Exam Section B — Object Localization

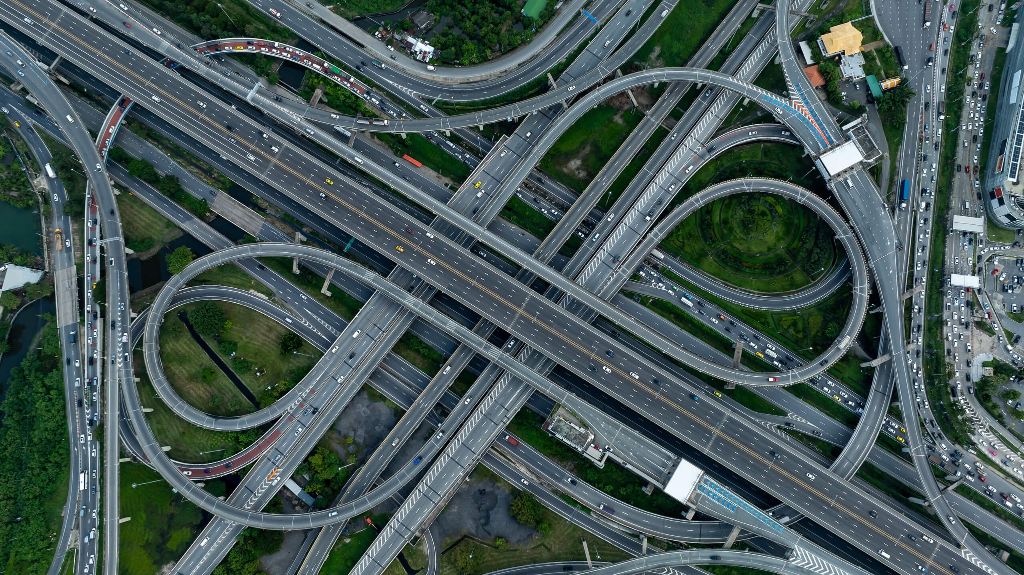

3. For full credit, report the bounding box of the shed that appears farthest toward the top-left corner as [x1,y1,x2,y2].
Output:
[1,263,47,292]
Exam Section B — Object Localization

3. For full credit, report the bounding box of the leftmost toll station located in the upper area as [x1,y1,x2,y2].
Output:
[820,139,864,177]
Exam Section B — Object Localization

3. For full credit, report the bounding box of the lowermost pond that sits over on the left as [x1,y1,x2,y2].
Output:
[0,200,42,261]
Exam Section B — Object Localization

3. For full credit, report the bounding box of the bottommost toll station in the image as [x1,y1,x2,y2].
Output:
[659,458,706,504]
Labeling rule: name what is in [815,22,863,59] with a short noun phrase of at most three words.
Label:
house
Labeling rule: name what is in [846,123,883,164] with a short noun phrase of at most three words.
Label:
building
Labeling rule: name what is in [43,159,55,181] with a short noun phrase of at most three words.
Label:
vehicle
